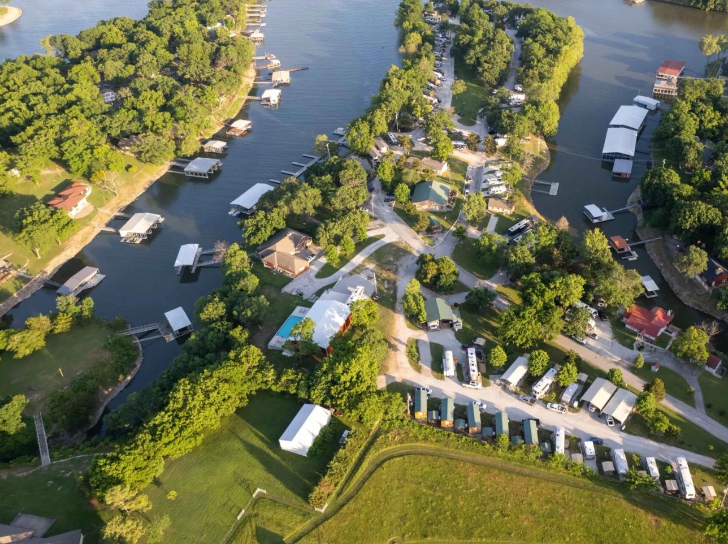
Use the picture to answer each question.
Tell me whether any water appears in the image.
Yes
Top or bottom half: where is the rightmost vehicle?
bottom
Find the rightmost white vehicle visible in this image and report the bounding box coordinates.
[674,459,696,504]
